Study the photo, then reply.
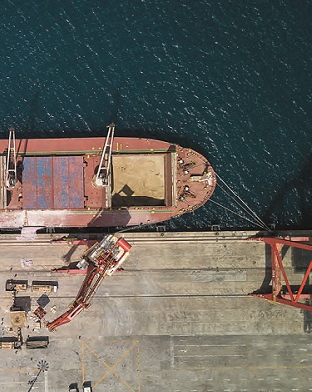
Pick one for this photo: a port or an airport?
port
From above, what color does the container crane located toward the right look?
red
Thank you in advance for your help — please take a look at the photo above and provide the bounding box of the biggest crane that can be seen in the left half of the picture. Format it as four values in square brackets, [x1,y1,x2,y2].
[35,229,136,333]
